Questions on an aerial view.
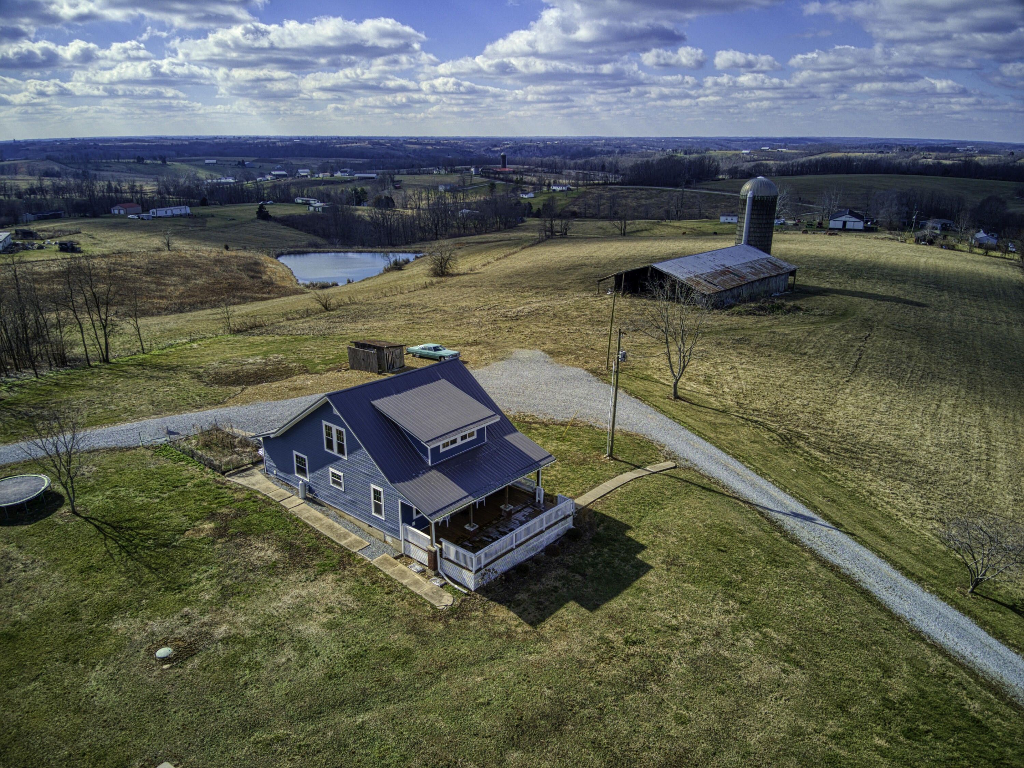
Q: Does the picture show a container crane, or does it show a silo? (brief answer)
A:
silo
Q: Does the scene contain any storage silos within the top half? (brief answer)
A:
Yes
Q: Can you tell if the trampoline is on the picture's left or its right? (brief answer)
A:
left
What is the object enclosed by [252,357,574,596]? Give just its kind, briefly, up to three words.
house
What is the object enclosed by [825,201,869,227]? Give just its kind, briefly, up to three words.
barn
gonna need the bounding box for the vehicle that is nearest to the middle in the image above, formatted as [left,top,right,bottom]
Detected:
[404,340,466,361]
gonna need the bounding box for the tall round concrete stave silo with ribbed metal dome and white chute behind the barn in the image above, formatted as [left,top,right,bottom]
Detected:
[737,174,781,258]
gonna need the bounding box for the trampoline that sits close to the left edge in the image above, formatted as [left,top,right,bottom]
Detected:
[0,470,52,511]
